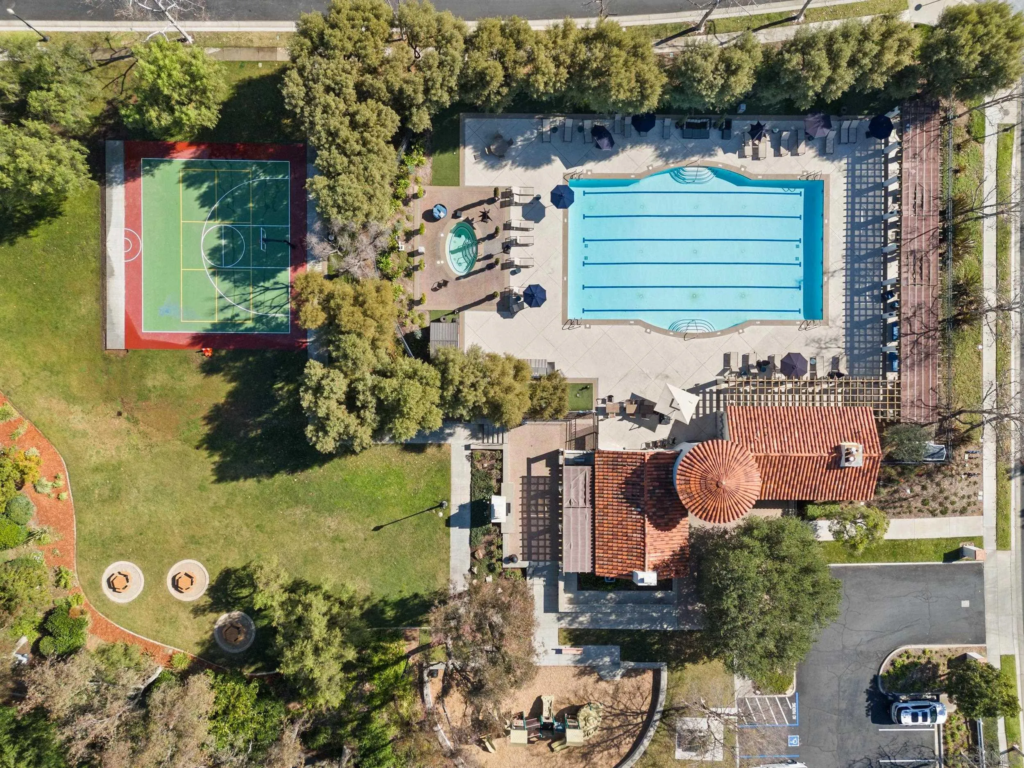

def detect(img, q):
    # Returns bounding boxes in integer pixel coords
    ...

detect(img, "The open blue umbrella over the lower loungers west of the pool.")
[523,285,546,307]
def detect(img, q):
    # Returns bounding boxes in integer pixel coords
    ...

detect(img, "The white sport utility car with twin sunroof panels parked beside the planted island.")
[890,697,946,727]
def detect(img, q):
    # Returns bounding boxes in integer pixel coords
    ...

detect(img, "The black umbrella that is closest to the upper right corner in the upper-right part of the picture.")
[867,116,892,140]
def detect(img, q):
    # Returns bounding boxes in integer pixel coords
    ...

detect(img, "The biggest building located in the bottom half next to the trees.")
[595,406,882,587]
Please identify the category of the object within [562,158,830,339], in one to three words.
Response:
swimming pool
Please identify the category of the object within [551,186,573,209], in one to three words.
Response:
umbrella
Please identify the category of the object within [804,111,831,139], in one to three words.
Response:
umbrella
